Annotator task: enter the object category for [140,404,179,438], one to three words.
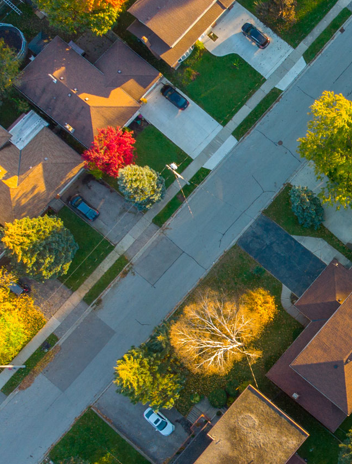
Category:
car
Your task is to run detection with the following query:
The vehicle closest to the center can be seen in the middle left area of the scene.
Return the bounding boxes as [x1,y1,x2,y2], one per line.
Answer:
[67,192,103,225]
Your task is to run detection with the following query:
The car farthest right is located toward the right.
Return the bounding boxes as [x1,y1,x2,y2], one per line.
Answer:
[241,22,274,52]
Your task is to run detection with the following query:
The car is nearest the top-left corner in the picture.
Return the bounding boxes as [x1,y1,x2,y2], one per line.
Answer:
[158,83,192,113]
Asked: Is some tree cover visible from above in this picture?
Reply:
Yes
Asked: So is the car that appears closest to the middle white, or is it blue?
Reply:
blue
